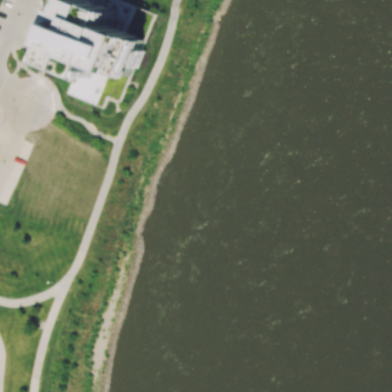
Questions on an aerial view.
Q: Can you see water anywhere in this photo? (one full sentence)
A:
Yes, there is water in the image.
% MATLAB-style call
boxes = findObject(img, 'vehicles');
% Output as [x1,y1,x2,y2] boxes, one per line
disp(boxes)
[15,157,26,165]
[2,1,14,9]
[0,12,8,18]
